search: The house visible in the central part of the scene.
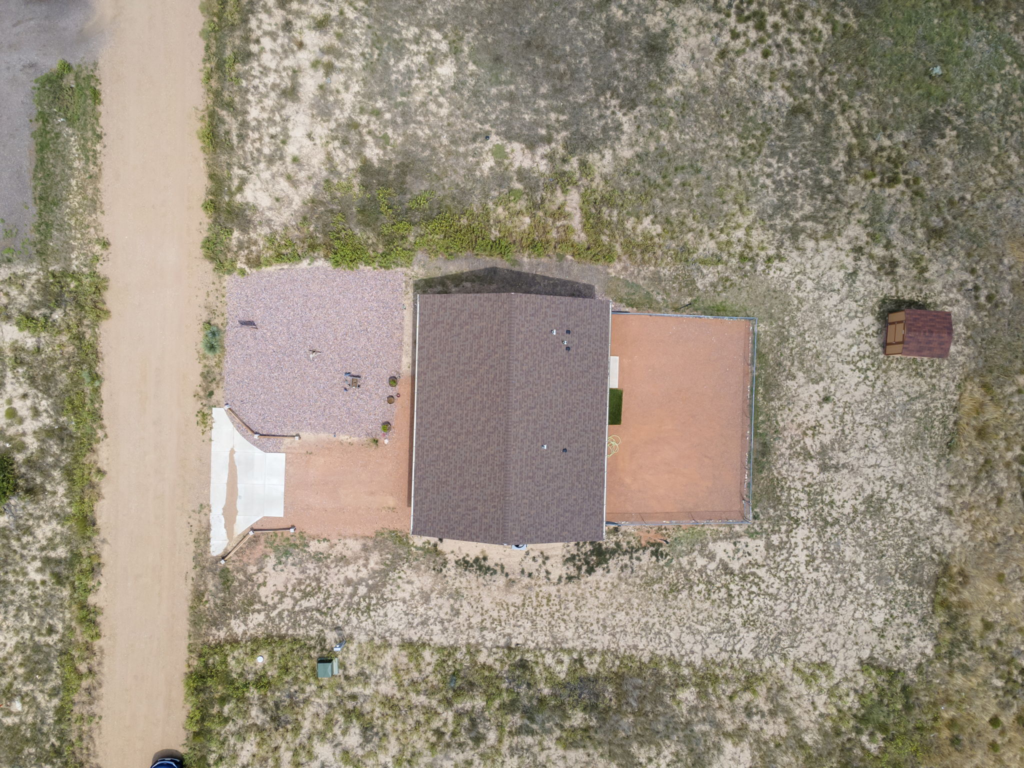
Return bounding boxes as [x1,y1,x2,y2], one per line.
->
[410,292,621,546]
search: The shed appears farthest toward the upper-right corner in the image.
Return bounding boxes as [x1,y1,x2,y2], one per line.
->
[886,310,957,356]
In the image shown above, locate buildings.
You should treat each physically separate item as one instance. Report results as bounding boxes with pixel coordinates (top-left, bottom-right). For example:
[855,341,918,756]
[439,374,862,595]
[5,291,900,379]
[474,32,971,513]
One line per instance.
[886,310,957,356]
[410,292,621,546]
